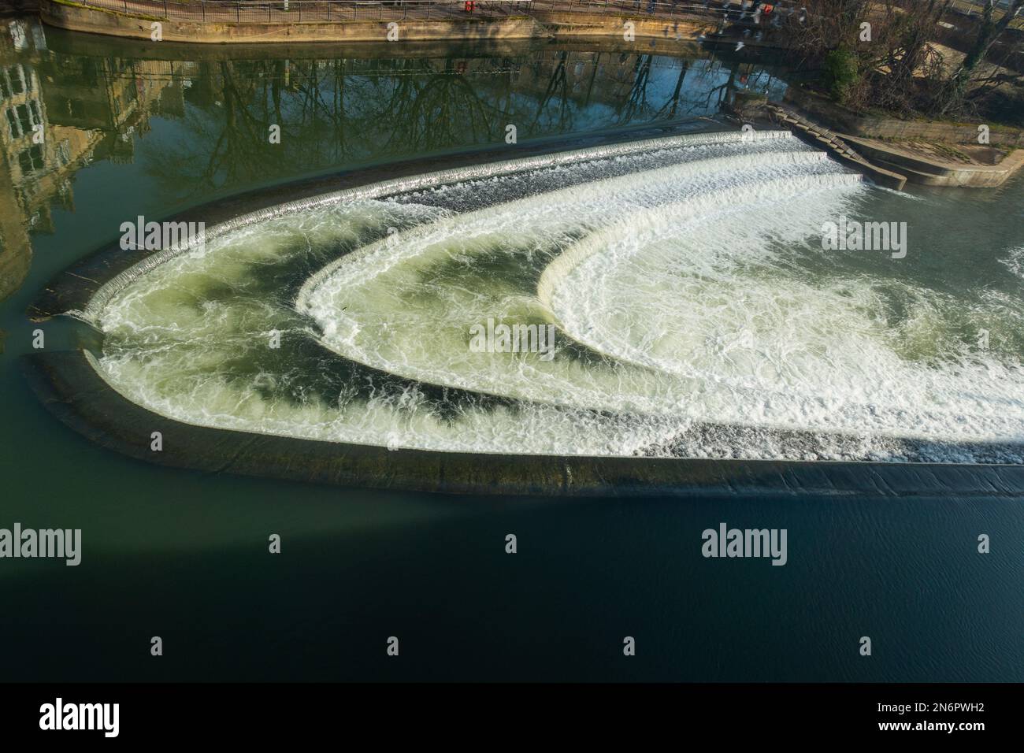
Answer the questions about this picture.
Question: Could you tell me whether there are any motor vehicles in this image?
No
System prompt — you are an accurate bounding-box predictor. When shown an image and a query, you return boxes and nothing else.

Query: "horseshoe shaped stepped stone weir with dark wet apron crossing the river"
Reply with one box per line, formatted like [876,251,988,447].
[21,114,1024,498]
